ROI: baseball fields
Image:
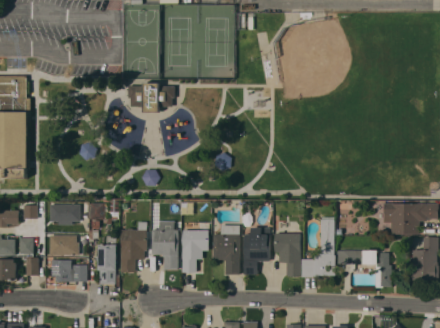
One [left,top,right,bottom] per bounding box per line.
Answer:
[252,12,440,194]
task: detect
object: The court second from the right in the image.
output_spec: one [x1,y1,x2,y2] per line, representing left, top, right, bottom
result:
[164,4,200,78]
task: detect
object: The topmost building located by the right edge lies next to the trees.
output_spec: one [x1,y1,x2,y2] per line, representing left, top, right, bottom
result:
[384,198,439,234]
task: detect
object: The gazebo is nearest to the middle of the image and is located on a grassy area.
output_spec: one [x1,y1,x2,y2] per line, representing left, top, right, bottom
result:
[215,153,232,168]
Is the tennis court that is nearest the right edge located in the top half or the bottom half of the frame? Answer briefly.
top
